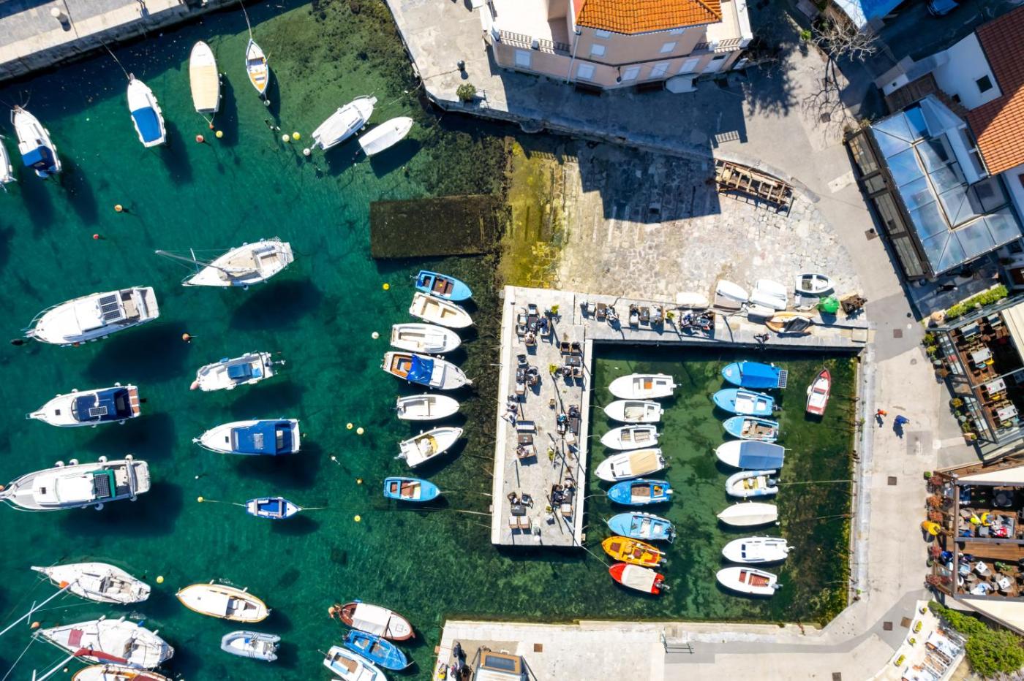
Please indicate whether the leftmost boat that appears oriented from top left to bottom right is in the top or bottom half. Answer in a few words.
top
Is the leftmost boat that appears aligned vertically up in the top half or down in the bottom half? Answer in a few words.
top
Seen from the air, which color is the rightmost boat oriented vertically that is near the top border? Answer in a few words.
white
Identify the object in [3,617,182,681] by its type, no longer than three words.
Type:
boat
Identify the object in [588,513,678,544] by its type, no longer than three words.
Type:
boat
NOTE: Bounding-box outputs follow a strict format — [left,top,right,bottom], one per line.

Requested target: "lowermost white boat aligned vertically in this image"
[806,359,830,415]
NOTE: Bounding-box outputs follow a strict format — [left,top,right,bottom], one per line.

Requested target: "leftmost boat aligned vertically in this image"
[0,136,23,192]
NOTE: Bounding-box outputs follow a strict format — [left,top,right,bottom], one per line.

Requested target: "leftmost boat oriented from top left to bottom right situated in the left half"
[0,85,66,181]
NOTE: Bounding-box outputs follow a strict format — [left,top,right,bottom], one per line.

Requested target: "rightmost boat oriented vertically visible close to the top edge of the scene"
[242,2,274,99]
